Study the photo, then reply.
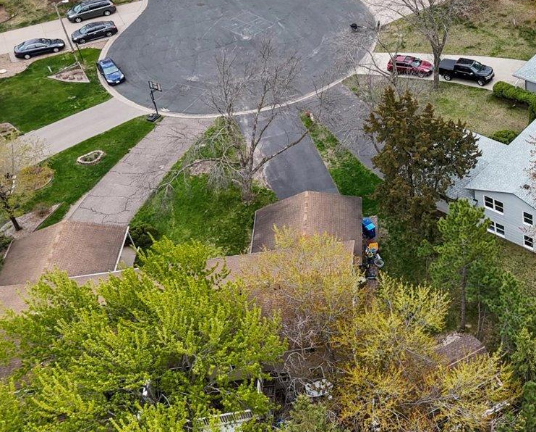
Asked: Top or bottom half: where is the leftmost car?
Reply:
top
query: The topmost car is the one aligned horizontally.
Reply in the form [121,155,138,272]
[64,0,114,20]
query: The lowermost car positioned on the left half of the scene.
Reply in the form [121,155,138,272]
[96,55,123,81]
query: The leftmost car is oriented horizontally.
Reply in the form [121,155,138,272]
[12,36,64,58]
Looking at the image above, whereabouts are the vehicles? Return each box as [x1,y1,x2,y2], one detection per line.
[12,36,64,58]
[440,55,498,85]
[387,51,432,76]
[64,0,114,20]
[96,55,123,81]
[68,18,116,41]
